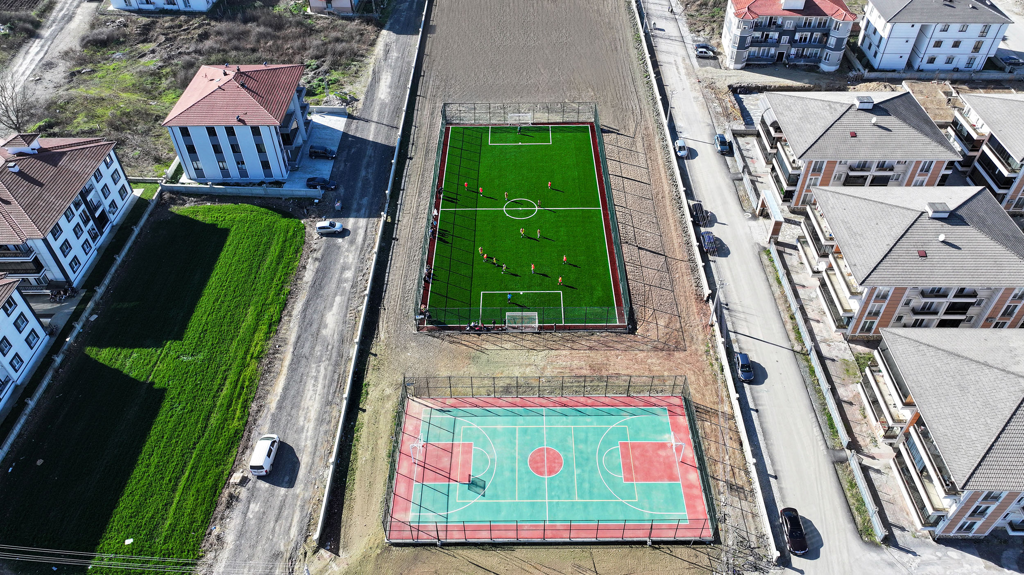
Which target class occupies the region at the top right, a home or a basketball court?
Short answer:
home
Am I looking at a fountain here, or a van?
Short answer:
van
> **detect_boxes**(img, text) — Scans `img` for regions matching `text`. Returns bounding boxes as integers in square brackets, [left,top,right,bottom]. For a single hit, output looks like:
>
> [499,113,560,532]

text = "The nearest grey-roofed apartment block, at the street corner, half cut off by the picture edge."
[855,327,1024,542]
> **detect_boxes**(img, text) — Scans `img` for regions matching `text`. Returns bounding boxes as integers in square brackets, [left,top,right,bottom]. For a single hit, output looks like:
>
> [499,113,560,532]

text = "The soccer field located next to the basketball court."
[414,121,629,332]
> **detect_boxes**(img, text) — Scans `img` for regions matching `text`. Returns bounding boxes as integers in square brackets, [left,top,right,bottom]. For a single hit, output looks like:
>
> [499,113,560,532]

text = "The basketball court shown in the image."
[387,394,714,542]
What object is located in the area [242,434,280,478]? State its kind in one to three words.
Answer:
van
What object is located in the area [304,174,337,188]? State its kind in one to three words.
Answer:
car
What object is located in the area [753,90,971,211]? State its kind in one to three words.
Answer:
building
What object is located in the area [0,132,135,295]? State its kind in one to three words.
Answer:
house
